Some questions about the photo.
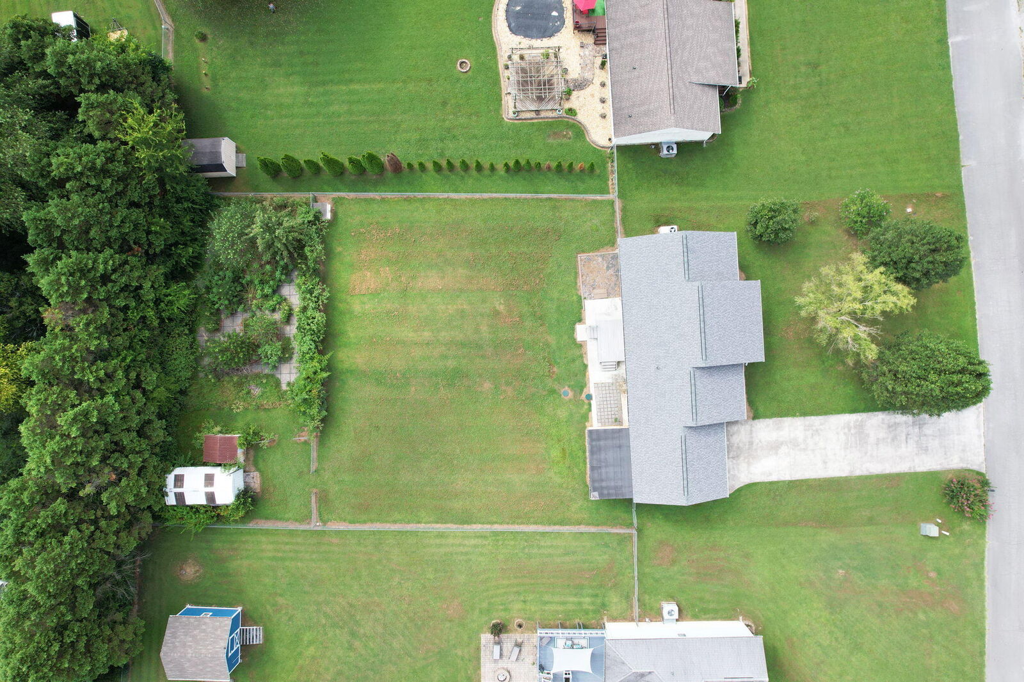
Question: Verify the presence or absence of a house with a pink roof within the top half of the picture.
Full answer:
No, no house with a pink roof can be made out within the top half of the picture.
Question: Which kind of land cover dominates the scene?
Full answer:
Most of the picture is covered by grass.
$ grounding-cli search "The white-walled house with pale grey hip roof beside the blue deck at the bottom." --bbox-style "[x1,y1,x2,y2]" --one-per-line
[604,614,768,682]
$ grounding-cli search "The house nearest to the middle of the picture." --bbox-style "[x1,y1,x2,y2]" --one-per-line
[585,231,766,505]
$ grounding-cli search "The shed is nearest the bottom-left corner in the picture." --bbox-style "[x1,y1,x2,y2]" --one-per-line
[160,606,242,681]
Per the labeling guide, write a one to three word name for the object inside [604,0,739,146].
house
